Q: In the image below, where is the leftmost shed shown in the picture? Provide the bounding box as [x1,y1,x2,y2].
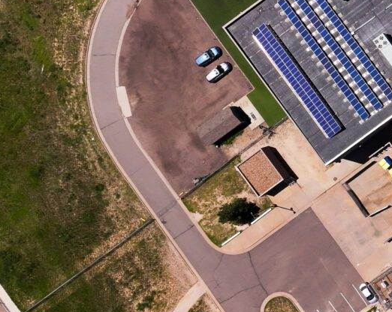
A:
[197,107,247,145]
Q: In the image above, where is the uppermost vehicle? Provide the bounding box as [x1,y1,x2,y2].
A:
[197,46,222,65]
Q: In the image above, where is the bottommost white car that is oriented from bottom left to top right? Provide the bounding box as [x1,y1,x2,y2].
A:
[207,61,232,81]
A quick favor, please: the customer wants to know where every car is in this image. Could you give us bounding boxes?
[197,46,222,65]
[207,61,232,81]
[358,279,378,302]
